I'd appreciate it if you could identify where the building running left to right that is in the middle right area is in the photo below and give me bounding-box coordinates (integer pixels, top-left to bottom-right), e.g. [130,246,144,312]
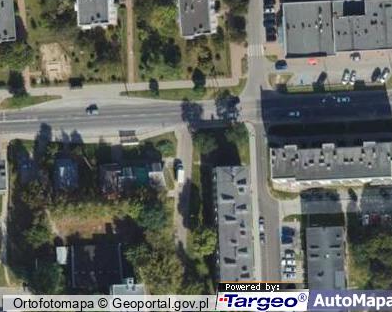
[269,138,392,189]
